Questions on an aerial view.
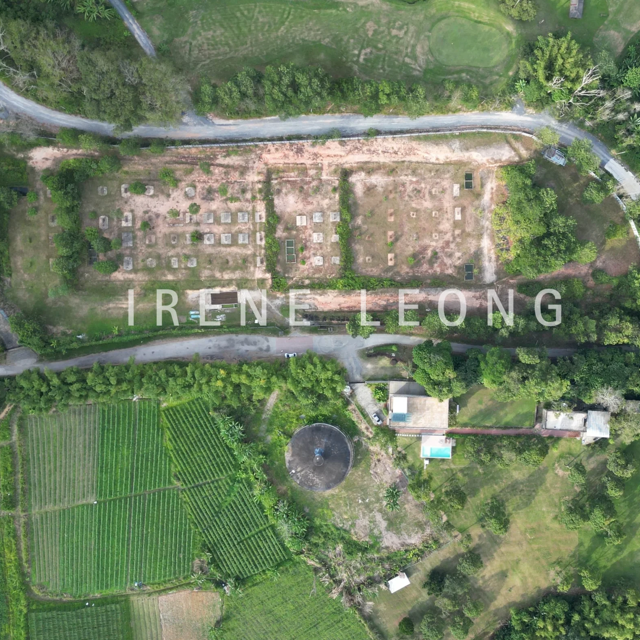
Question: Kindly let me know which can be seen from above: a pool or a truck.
pool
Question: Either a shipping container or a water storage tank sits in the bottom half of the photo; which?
water storage tank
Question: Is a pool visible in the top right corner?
No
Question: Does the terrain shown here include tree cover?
Yes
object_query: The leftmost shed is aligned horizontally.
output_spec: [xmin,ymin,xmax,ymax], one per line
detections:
[211,292,238,304]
